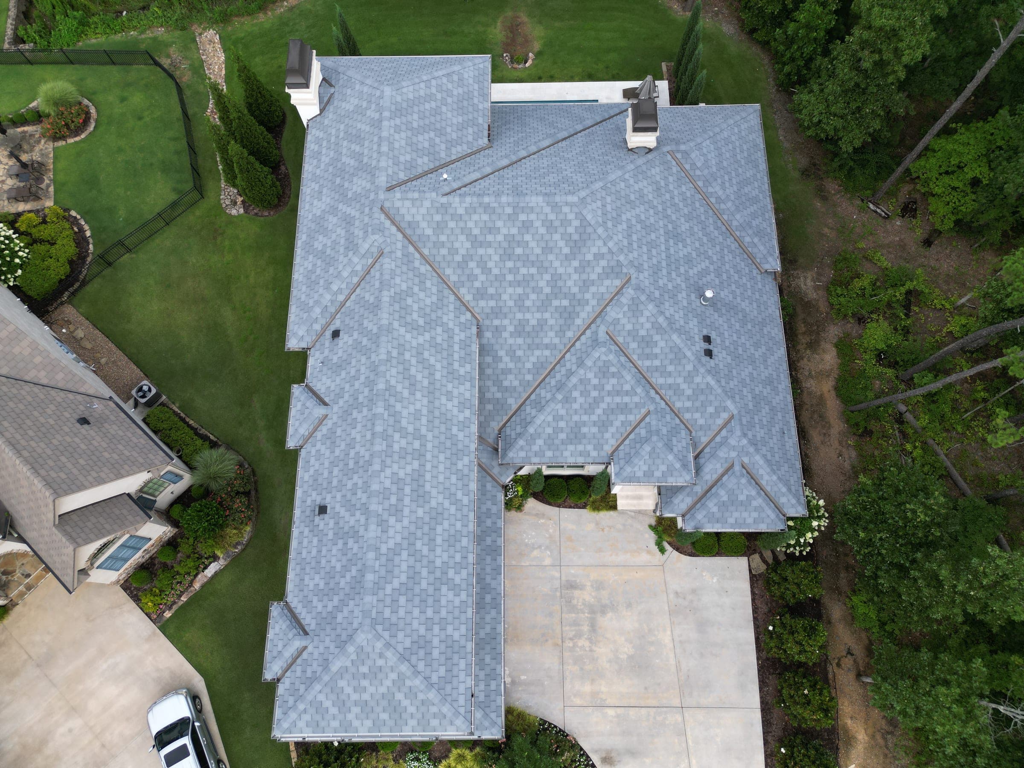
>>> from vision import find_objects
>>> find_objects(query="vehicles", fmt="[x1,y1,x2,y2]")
[149,686,227,768]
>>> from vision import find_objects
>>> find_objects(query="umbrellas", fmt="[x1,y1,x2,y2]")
[643,74,659,98]
[1,147,46,186]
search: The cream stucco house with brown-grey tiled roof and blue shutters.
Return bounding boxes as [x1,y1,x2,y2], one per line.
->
[0,274,190,597]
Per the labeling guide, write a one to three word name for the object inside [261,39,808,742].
house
